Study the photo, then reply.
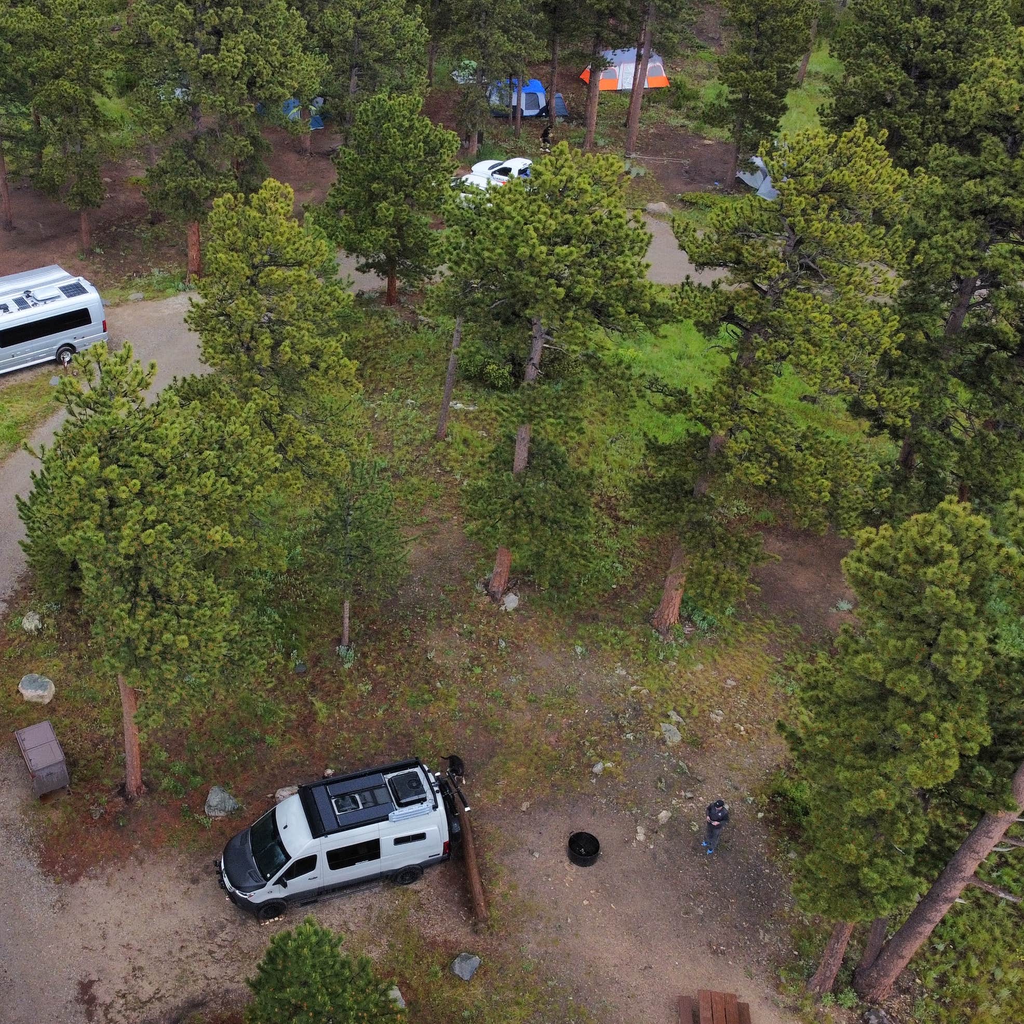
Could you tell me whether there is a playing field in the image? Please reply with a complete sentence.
No, the scene contains no playing field.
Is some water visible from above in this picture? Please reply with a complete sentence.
No, there is no water in the image.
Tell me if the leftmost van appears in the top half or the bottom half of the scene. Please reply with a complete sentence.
Seen from above, the leftmost van lies in the top half of the view.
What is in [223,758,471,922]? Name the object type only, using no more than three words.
van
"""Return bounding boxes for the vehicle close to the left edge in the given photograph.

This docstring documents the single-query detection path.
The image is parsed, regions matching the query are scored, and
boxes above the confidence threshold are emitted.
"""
[0,286,108,376]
